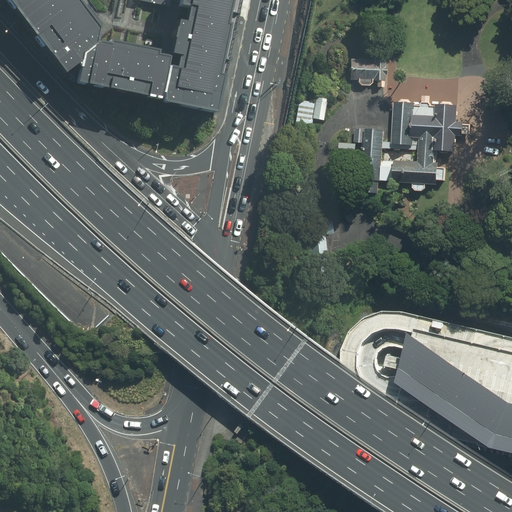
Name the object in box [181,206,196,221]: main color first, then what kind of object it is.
white car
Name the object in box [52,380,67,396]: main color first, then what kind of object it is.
white car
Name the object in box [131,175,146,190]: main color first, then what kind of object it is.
gray car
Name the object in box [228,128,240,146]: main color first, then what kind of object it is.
white vehicle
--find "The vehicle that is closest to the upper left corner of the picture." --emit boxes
[34,80,50,95]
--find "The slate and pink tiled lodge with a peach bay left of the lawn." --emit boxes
[351,59,388,96]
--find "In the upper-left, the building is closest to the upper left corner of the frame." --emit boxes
[8,0,104,74]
